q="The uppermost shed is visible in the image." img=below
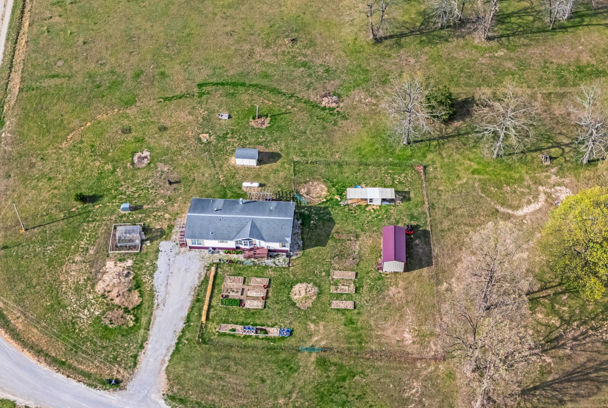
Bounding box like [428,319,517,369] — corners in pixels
[234,146,259,166]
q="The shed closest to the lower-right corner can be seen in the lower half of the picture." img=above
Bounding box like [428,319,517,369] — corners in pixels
[375,223,405,271]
